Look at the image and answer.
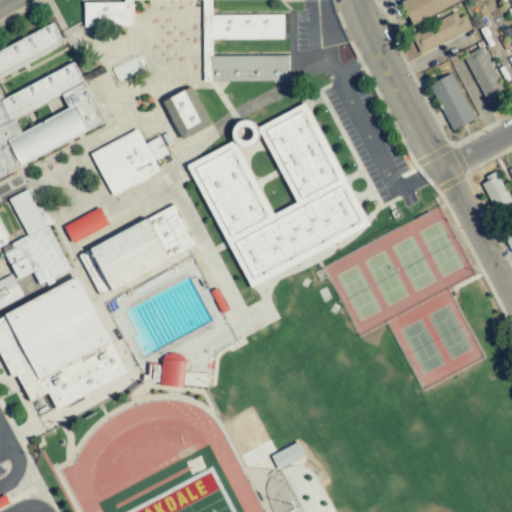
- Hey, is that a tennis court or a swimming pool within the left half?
swimming pool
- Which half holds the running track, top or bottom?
bottom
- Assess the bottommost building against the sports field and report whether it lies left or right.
on its right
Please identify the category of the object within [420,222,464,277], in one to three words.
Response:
tennis court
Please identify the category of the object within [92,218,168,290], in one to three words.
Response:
building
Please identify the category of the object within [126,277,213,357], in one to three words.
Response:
swimming pool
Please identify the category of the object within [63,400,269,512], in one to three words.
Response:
running track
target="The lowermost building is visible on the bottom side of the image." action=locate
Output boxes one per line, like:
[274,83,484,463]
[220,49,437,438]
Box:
[272,442,306,468]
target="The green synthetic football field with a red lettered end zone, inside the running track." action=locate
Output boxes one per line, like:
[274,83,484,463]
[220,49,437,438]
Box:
[100,446,245,512]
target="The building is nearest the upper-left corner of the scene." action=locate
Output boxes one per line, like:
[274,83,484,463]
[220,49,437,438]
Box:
[0,23,63,74]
